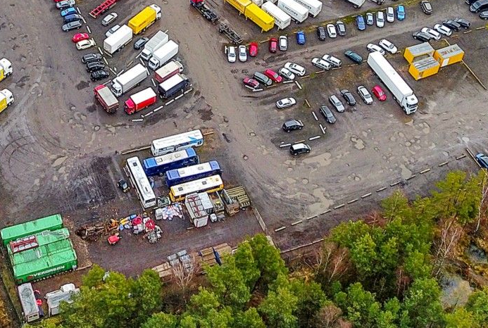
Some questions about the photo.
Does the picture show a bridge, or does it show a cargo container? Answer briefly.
cargo container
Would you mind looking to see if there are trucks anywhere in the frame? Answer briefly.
Yes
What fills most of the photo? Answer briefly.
paved ground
